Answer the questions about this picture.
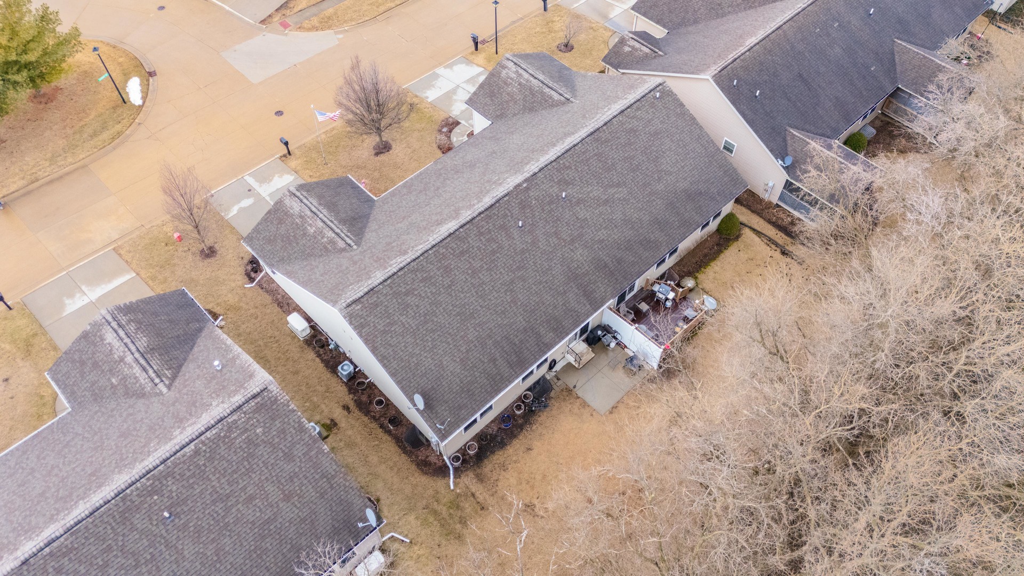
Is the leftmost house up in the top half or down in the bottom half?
bottom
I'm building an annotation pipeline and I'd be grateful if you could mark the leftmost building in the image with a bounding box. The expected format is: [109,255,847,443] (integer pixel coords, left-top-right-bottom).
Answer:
[0,287,409,576]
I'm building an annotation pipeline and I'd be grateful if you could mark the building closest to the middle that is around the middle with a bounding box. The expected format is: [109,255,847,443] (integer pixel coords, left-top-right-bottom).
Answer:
[242,53,751,489]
